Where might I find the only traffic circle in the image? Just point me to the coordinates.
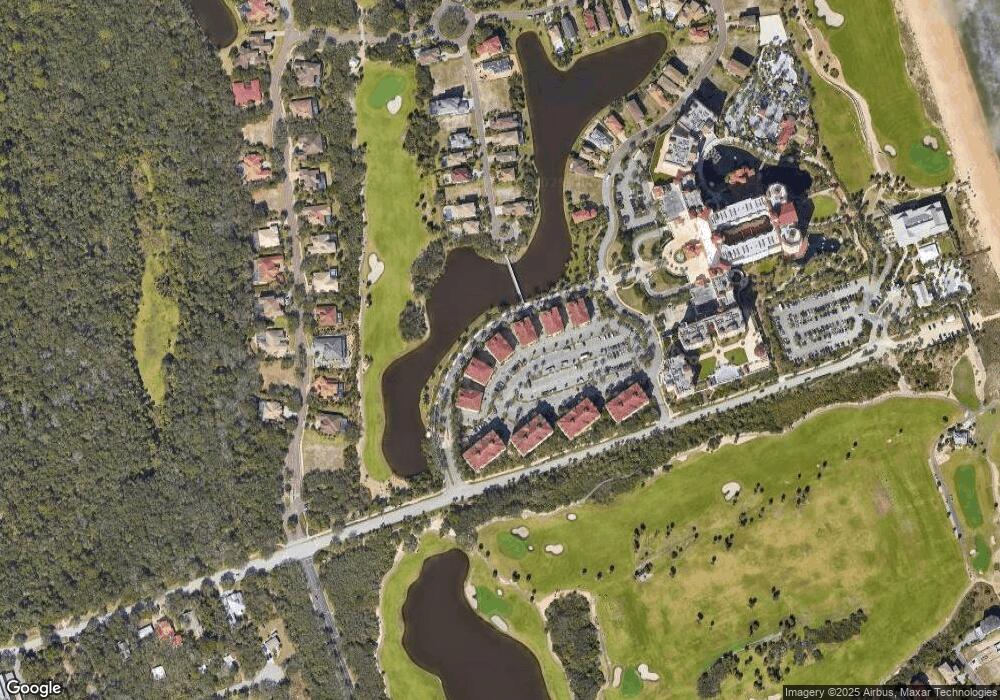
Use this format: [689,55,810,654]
[432,2,476,44]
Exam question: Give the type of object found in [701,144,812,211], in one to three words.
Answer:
pond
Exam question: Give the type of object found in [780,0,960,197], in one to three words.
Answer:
golf course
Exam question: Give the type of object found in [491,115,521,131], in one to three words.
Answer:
house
